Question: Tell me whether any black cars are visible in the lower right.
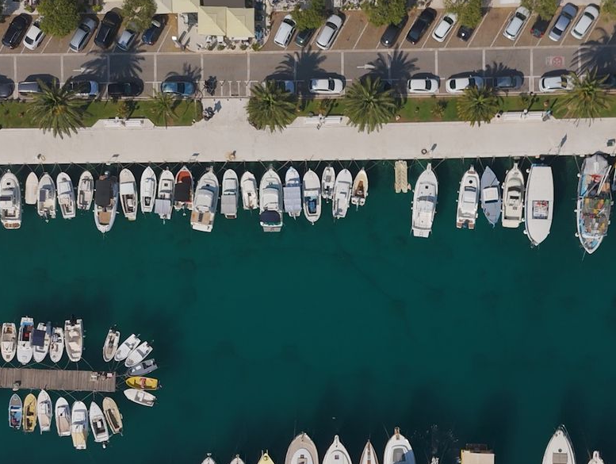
No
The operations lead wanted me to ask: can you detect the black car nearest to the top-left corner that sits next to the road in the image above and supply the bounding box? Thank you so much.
[4,12,34,54]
